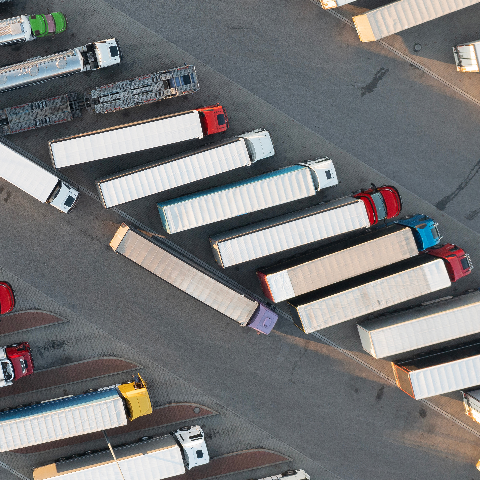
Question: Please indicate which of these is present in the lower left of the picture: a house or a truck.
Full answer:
You can see a truck in the lower left of the picture.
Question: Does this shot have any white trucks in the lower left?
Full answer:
Yes, a white truck is visible in the lower left.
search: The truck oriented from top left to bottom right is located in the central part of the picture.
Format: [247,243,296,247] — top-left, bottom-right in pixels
[110,222,279,339]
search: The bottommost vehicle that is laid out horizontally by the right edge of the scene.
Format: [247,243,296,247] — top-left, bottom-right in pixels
[390,339,480,399]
